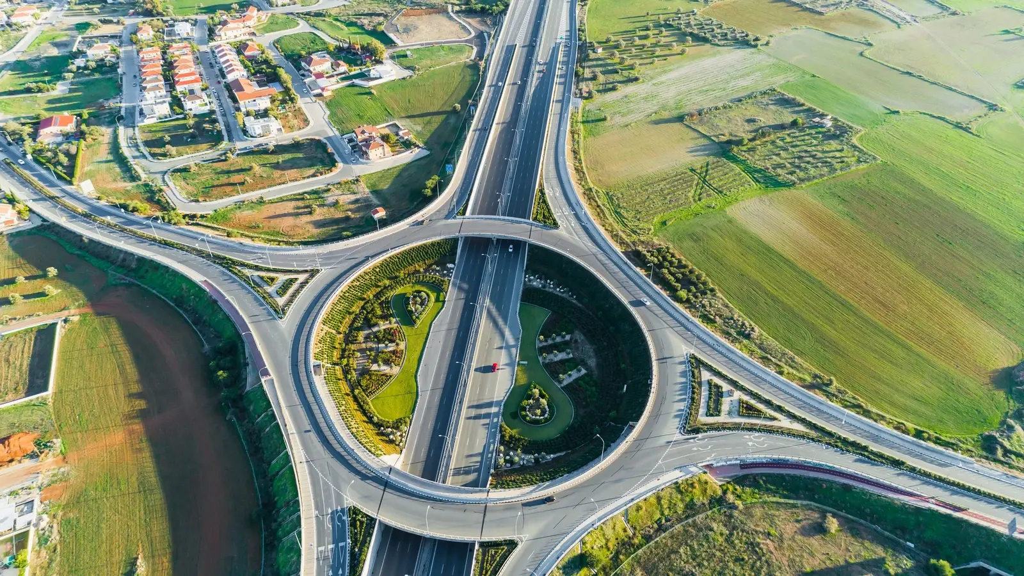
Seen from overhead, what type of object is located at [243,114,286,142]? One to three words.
house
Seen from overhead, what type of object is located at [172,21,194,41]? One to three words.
house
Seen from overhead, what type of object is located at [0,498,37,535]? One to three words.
shed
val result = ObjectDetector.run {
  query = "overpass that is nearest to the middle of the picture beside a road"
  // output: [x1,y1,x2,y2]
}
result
[448,213,565,255]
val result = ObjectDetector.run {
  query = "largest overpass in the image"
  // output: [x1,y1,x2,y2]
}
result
[339,476,542,554]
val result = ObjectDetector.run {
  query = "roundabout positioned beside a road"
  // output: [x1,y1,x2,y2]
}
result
[32,14,767,576]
